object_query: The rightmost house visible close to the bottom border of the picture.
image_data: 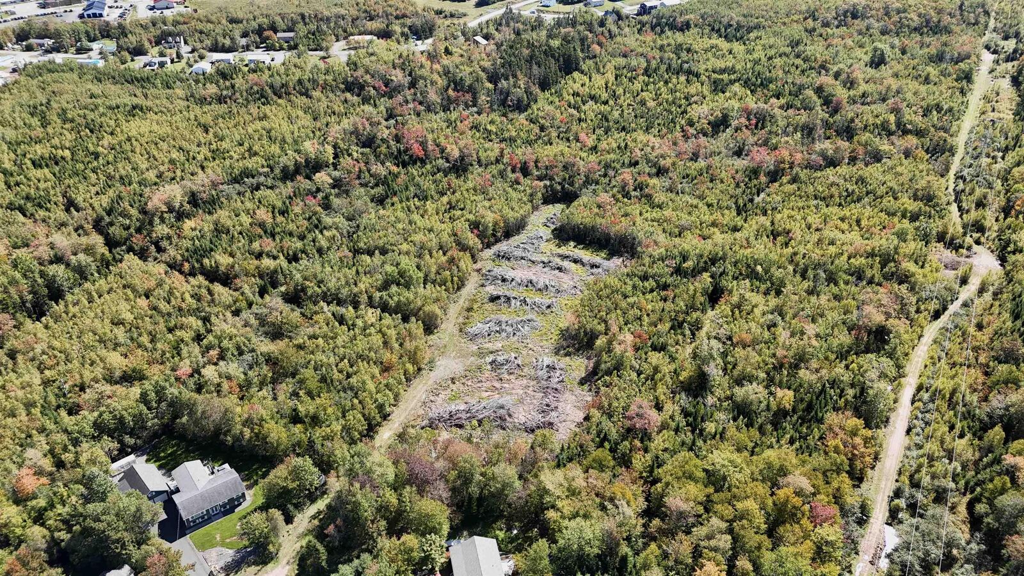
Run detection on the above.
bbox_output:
[447,535,521,576]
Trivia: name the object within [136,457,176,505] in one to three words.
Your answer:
building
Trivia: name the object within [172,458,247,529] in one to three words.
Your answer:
house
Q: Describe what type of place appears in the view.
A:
forest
